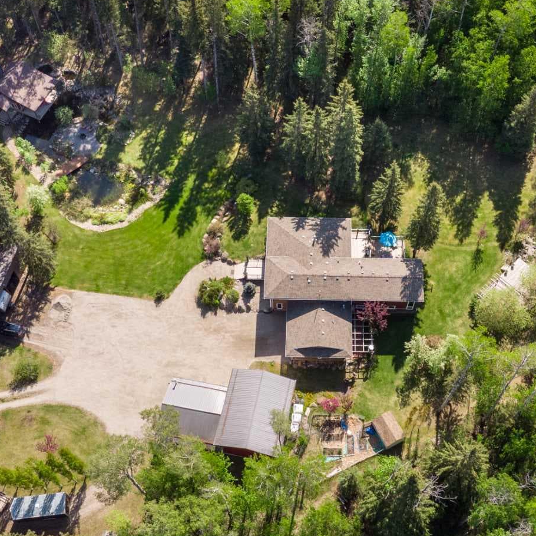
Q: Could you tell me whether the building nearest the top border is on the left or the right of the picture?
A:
left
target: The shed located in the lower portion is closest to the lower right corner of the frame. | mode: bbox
[372,411,404,449]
